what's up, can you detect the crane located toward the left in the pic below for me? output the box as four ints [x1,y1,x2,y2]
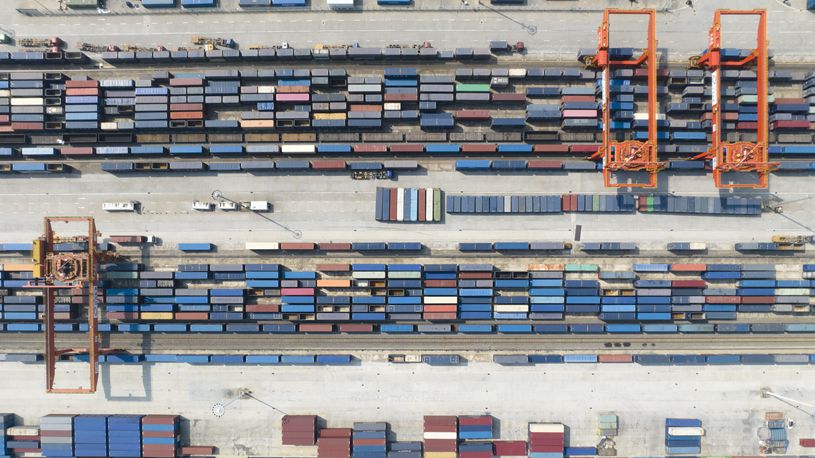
[22,217,121,393]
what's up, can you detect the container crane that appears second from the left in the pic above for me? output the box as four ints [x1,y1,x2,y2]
[580,7,668,188]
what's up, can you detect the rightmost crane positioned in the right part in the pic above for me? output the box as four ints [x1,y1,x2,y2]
[684,9,779,189]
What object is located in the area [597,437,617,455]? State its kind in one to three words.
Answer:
vehicle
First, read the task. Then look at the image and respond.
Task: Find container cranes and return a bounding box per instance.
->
[684,9,779,189]
[580,7,668,188]
[22,217,121,393]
